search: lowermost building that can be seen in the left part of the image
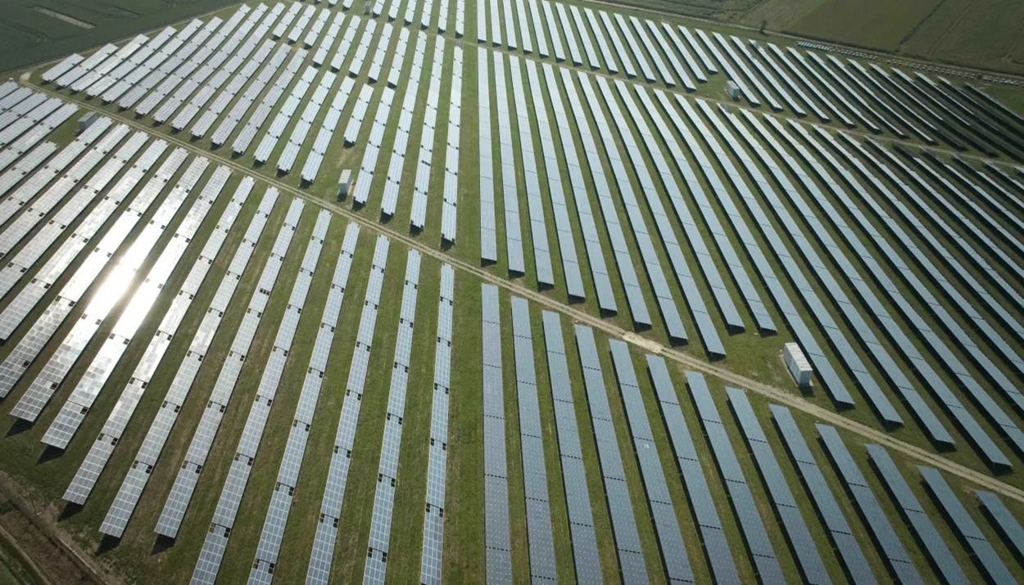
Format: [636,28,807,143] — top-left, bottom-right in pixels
[338,169,356,193]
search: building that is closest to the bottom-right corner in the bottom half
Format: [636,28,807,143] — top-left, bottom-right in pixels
[777,342,814,383]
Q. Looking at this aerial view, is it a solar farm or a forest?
solar farm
